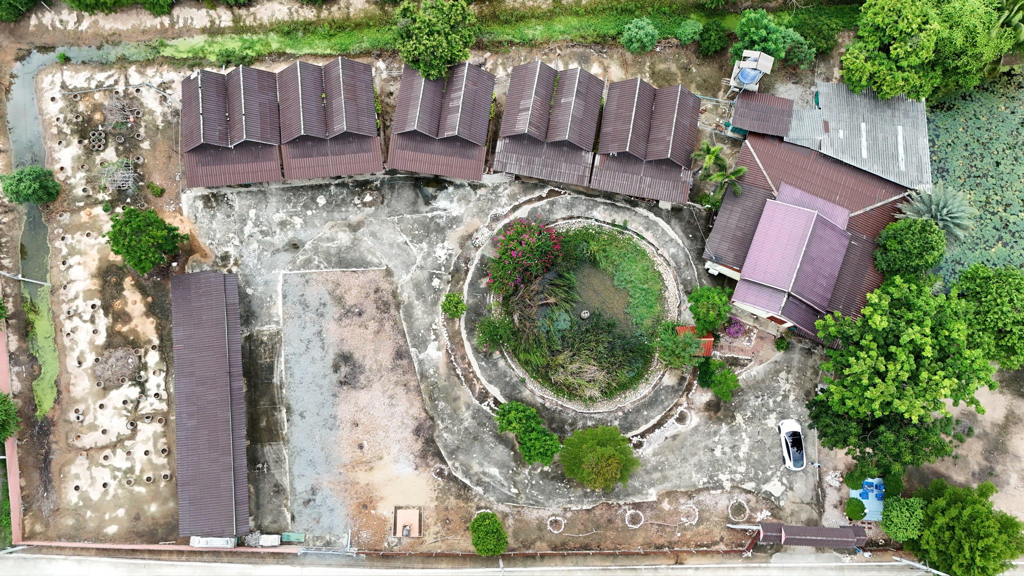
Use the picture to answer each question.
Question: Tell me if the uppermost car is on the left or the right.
right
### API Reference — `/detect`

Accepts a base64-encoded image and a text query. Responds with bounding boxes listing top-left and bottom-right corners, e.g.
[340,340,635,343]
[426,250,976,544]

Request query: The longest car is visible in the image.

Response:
[774,419,805,473]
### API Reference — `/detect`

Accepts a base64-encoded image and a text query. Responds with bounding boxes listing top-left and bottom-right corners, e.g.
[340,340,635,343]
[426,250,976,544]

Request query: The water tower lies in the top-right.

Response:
[718,50,774,104]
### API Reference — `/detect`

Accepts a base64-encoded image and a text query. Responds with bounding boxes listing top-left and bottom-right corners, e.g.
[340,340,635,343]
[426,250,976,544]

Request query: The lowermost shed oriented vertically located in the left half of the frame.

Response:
[170,271,251,538]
